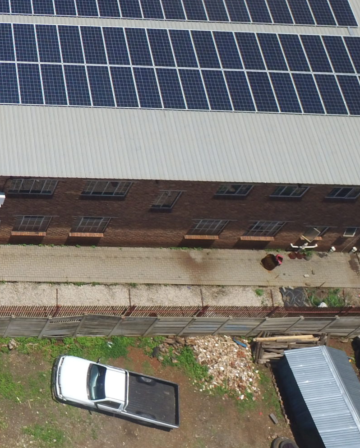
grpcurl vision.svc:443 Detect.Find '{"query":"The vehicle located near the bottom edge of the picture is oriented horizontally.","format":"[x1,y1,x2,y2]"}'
[45,359,190,441]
